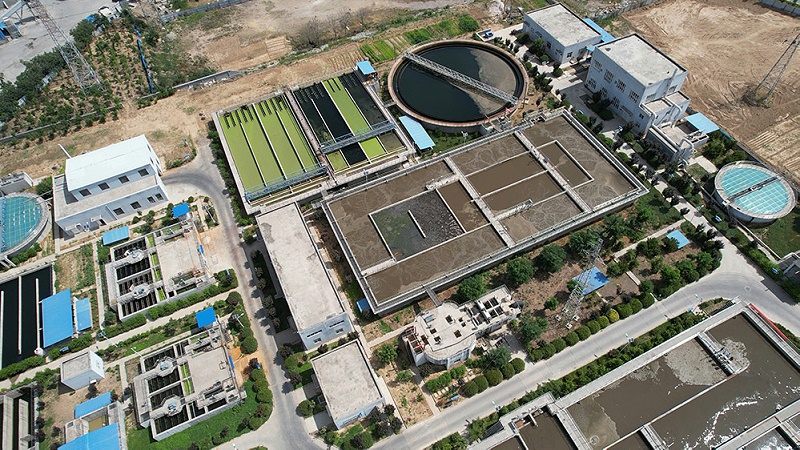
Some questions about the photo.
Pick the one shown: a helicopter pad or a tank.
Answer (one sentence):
Visible in the photo is a tank.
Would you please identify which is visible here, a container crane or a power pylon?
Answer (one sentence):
It is a power pylon that can be seen here.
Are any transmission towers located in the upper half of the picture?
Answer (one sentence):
Yes, a transmission tower is visible in the upper half of the picture.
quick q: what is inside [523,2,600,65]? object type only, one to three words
building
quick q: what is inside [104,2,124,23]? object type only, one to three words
vehicle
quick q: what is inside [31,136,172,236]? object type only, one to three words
building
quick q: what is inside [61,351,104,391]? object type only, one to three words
shed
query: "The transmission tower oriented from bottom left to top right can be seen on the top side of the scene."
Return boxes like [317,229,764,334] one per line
[754,20,800,98]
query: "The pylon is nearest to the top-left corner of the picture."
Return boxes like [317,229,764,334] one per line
[23,0,105,98]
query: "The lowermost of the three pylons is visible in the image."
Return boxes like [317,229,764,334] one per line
[555,238,608,327]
